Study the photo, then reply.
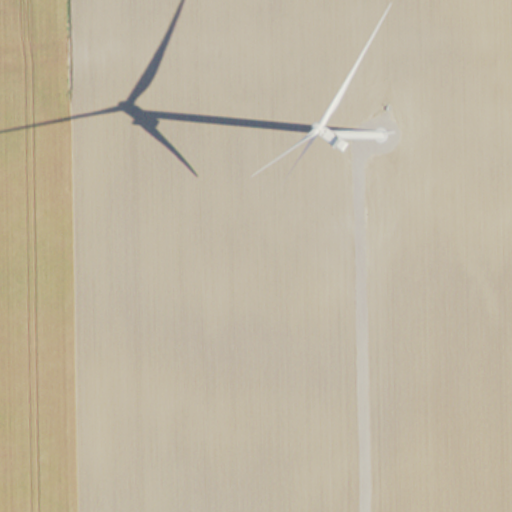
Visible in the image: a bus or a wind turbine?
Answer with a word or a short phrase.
wind turbine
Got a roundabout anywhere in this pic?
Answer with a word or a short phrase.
No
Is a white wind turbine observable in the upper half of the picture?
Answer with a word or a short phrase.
Yes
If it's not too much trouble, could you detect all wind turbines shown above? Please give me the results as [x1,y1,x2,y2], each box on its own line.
[252,2,396,183]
